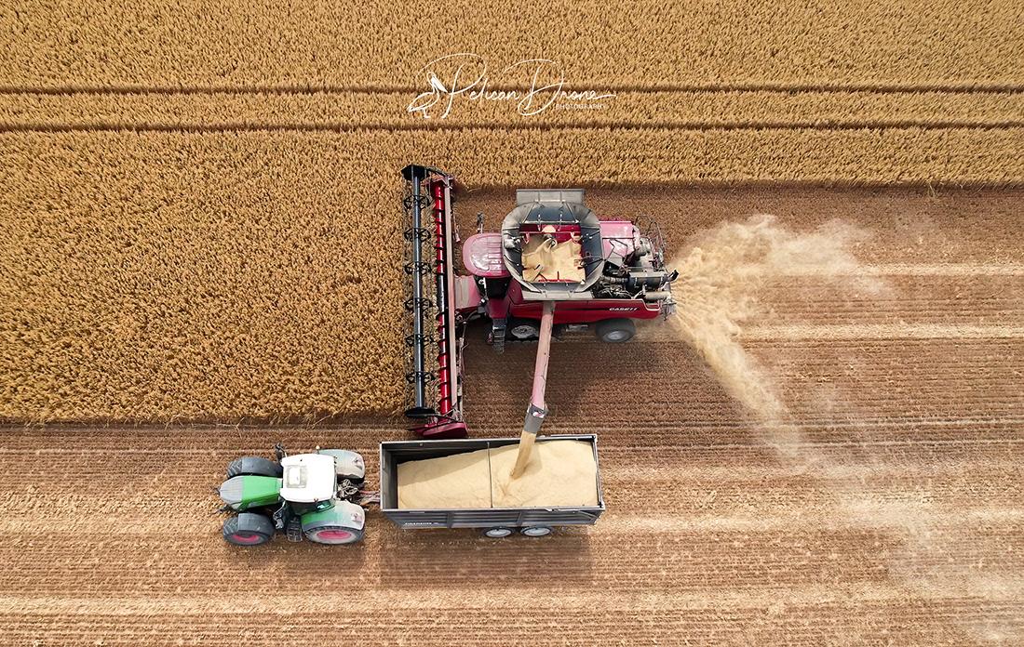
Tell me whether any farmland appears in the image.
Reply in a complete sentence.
Yes, farmland can be seen from above here.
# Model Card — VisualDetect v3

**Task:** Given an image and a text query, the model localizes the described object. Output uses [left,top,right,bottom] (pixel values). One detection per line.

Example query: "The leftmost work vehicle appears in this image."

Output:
[212,447,374,546]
